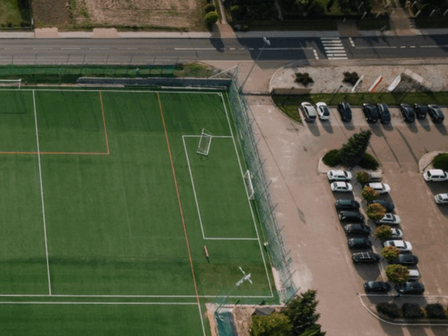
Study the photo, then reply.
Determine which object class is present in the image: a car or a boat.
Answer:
car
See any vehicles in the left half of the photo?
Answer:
No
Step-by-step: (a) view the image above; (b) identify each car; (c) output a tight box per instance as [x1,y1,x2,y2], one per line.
[338,210,364,223]
[393,282,424,294]
[329,181,353,193]
[325,169,352,181]
[333,199,360,211]
[364,181,391,194]
[350,251,380,264]
[337,104,353,122]
[301,104,316,122]
[315,103,331,121]
[377,213,402,226]
[392,228,406,239]
[434,193,448,205]
[427,105,445,125]
[380,200,397,212]
[364,171,387,182]
[394,255,420,265]
[376,104,392,125]
[344,224,370,235]
[412,103,428,122]
[346,237,372,249]
[422,169,448,181]
[399,104,416,124]
[363,280,390,293]
[361,104,379,124]
[383,240,412,253]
